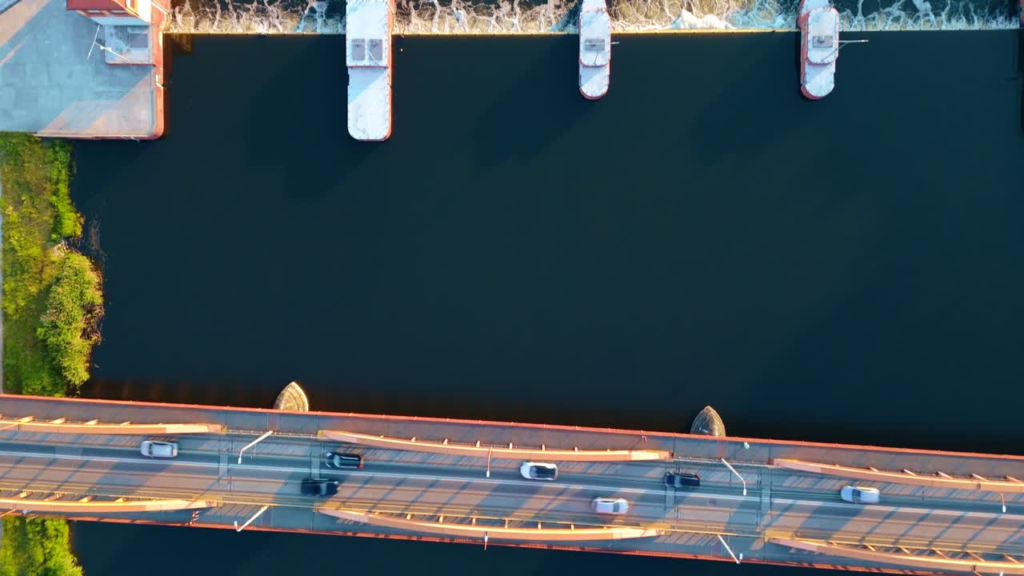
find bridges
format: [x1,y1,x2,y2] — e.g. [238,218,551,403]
[0,379,1024,576]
